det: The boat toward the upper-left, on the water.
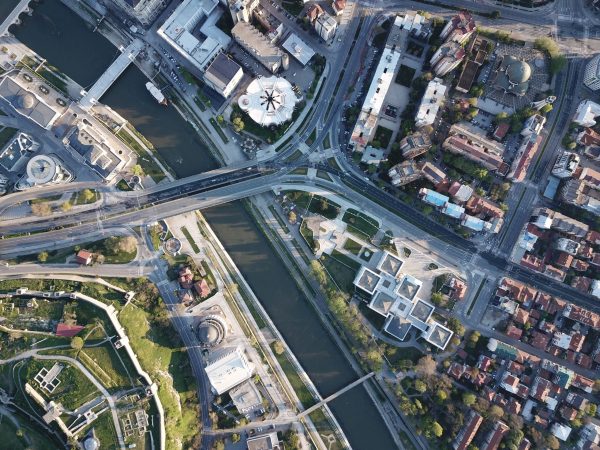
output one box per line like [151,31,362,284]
[144,80,168,106]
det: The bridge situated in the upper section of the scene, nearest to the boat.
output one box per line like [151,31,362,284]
[77,40,146,114]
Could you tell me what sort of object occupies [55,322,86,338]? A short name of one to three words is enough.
shed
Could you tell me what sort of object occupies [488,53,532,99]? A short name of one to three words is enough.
building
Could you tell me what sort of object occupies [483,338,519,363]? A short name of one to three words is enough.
building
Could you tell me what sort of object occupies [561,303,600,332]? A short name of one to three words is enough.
house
